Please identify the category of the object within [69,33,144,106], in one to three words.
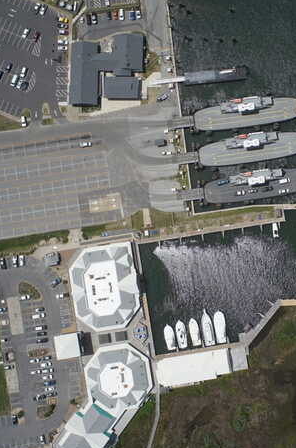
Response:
building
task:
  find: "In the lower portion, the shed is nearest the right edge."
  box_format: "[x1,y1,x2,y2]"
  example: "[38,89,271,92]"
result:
[230,346,248,371]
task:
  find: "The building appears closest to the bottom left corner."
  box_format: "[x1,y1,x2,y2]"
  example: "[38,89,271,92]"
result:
[58,396,130,448]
